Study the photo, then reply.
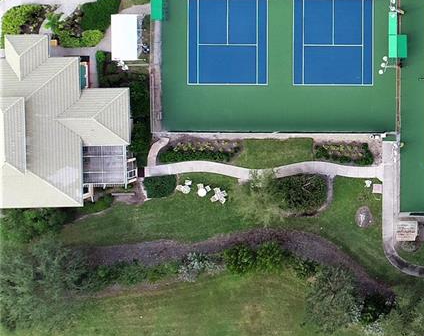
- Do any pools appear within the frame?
No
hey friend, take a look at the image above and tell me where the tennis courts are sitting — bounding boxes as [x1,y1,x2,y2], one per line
[400,0,424,213]
[161,0,281,132]
[281,0,396,132]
